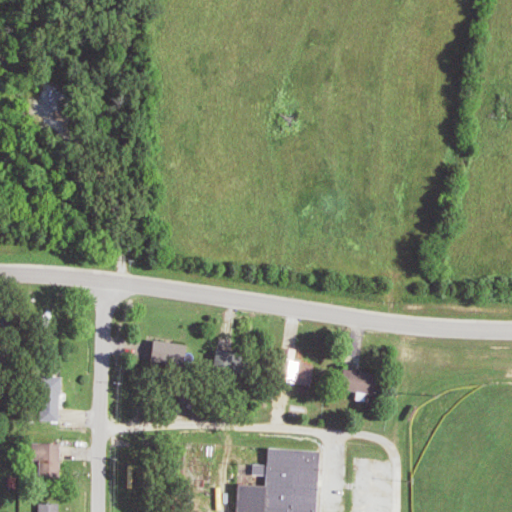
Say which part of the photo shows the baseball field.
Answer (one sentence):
The baseball field is located in the bottom right region of the scene.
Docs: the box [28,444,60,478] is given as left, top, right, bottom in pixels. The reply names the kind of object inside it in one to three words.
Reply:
house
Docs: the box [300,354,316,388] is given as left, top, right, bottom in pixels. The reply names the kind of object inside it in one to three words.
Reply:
house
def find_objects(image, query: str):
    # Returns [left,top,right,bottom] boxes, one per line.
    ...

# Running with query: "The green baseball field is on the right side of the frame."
[410,382,512,512]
